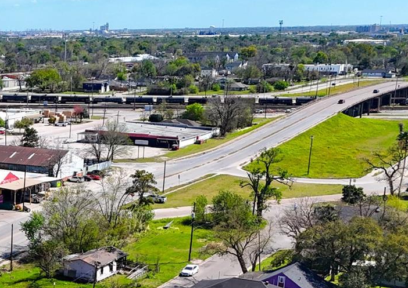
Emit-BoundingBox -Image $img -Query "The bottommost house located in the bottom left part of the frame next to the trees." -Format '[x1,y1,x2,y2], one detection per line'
[64,249,120,283]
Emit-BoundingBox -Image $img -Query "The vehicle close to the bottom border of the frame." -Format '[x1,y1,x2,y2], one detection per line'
[178,262,201,276]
